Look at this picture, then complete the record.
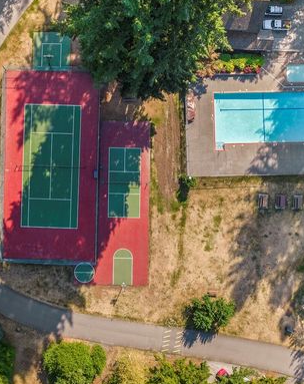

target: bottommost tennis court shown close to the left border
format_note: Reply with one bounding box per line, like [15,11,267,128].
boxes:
[0,71,99,262]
